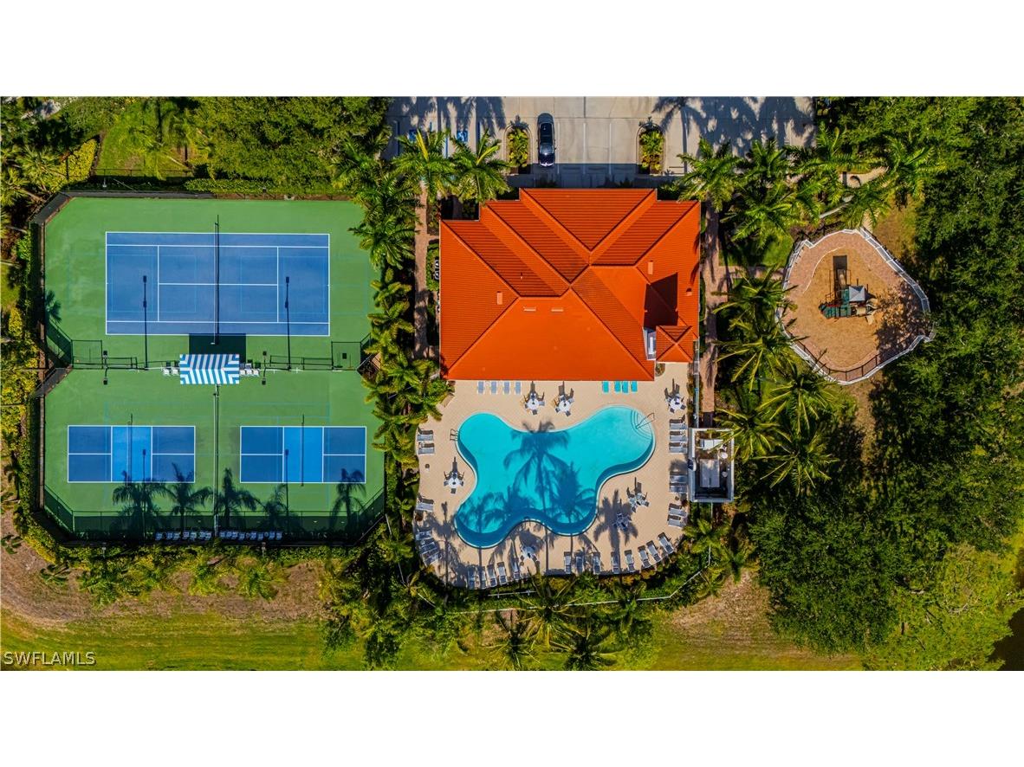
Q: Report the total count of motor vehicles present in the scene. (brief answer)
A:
one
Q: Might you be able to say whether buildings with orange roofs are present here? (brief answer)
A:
Yes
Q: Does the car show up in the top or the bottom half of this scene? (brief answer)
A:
top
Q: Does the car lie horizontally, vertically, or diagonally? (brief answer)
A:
vertically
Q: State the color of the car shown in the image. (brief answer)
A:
black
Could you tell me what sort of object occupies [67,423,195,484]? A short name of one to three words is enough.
sports court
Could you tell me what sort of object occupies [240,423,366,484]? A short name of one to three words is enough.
sports court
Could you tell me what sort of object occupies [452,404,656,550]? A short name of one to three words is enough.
swimming pool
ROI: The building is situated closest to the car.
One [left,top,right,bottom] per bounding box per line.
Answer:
[439,187,701,382]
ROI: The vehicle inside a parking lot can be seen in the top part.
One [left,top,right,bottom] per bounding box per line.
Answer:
[535,113,556,166]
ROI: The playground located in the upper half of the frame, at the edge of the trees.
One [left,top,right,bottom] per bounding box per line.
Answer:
[784,231,930,381]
